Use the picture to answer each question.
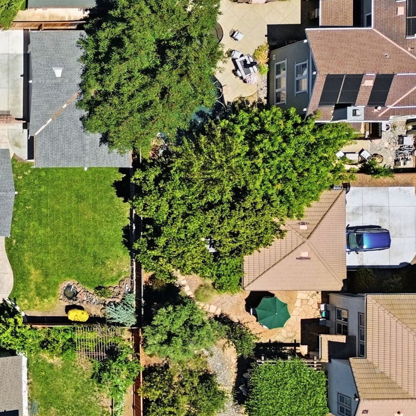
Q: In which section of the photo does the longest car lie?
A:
right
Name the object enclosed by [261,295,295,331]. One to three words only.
umbrella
